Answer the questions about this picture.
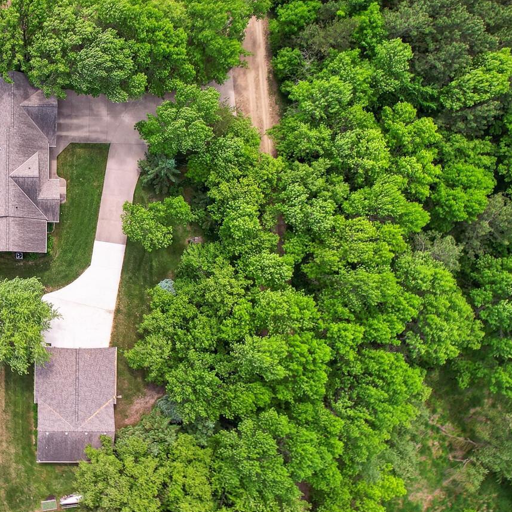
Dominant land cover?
trees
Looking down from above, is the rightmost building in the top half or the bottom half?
bottom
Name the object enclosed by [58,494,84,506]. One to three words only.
boat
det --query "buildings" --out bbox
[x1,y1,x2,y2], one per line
[0,72,60,252]
[34,346,122,463]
